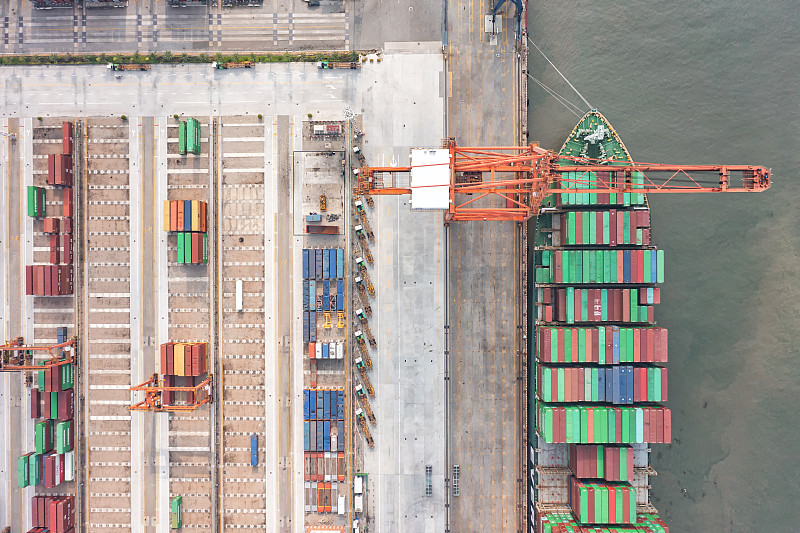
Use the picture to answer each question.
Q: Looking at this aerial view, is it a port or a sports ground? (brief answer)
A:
port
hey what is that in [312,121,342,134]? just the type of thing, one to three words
building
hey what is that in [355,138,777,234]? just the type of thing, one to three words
container crane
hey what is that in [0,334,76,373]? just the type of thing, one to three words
container crane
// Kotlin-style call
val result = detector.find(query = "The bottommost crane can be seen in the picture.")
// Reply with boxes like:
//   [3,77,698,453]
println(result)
[134,372,212,413]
